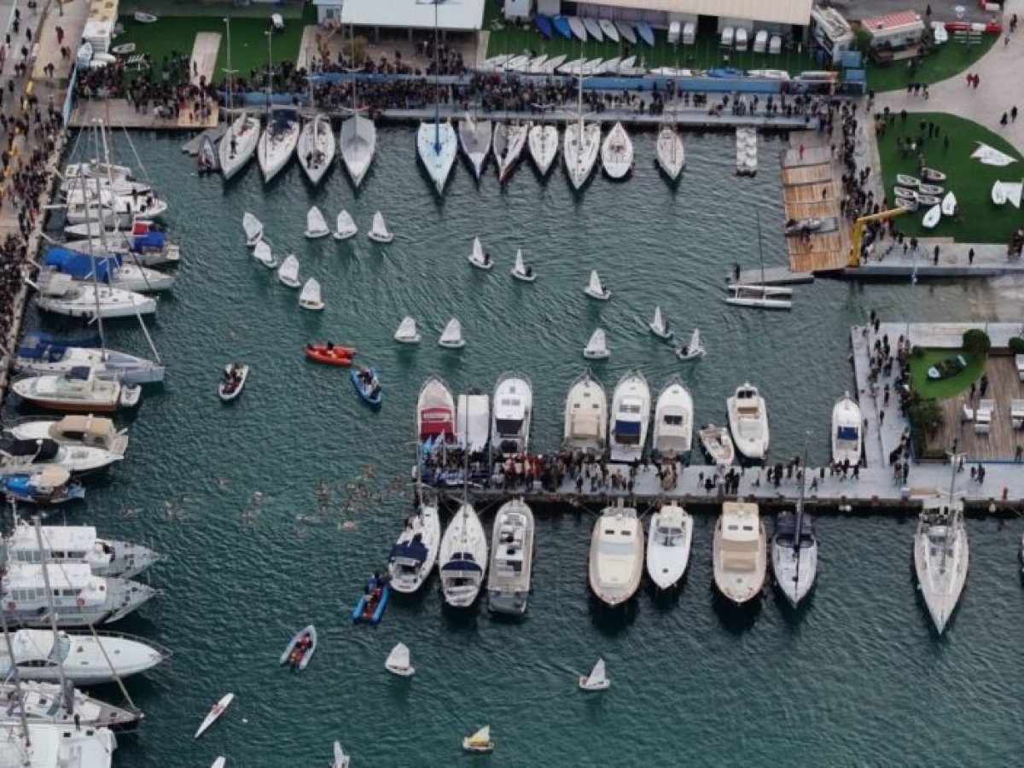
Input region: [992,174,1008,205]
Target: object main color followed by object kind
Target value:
white boat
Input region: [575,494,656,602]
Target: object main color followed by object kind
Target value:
white boat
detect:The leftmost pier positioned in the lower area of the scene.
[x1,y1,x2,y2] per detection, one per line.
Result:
[423,465,864,509]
